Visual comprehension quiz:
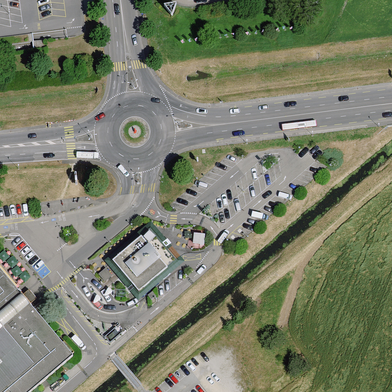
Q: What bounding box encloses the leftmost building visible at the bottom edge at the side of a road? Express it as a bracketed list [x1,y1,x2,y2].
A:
[0,295,72,392]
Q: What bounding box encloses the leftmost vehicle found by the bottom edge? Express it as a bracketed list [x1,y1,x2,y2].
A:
[50,376,68,390]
